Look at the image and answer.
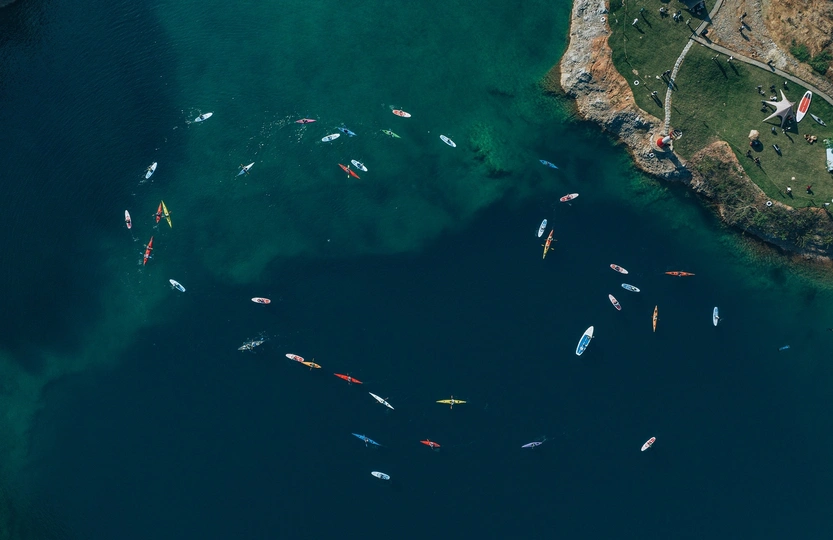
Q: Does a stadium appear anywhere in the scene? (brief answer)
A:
No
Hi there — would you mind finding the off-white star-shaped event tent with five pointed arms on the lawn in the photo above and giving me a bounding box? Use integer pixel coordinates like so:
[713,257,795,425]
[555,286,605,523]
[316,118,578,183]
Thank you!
[763,89,796,128]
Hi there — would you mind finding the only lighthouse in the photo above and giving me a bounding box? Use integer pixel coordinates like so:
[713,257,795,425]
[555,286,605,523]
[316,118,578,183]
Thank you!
[651,128,682,153]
